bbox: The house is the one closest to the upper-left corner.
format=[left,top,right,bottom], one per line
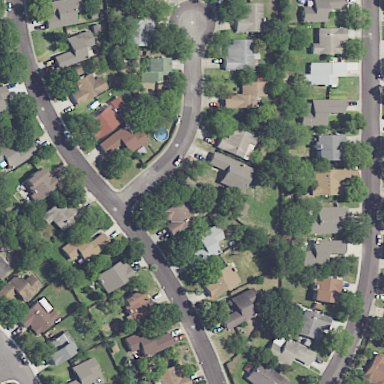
[48,0,80,29]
